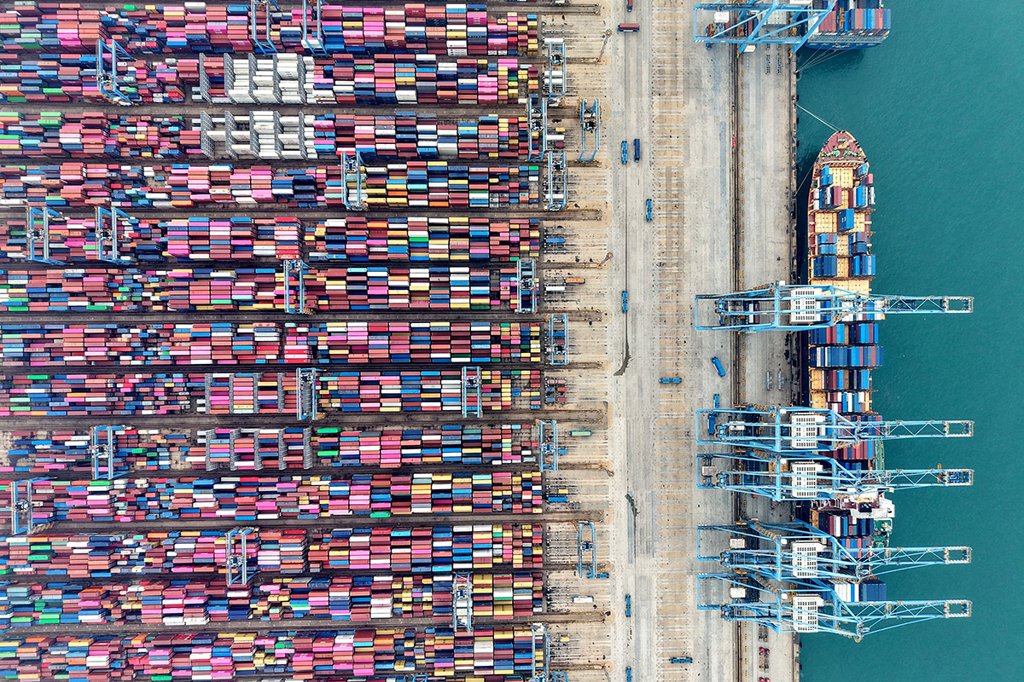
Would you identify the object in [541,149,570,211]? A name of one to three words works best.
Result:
crane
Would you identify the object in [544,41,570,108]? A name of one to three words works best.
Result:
crane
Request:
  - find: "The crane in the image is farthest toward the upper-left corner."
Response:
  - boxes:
[93,37,139,107]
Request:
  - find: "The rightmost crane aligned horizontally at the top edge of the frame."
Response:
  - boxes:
[692,0,852,64]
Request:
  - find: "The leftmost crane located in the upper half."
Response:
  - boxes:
[28,205,74,264]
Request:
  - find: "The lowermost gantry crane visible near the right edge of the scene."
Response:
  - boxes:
[696,558,973,641]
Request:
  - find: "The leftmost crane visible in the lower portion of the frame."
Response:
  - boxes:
[11,476,59,534]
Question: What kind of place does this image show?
port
